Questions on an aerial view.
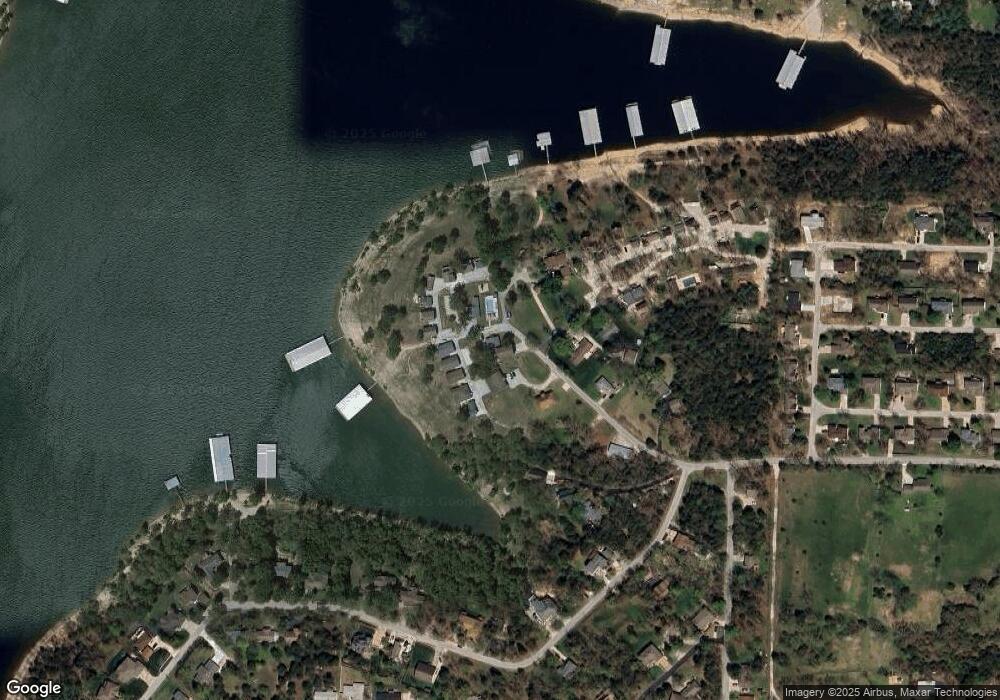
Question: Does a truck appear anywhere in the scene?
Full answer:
No, no truck can be seen from above.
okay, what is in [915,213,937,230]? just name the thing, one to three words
house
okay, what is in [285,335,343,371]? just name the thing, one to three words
pier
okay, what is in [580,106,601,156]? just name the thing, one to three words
pier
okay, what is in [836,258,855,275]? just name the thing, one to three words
house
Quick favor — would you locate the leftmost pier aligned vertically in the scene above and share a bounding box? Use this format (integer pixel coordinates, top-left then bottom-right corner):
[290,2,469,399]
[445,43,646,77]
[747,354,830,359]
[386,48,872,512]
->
[209,433,233,491]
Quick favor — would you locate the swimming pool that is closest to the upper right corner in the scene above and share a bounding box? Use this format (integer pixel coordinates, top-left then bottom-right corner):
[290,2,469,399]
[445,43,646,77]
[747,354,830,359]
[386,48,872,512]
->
[678,273,701,290]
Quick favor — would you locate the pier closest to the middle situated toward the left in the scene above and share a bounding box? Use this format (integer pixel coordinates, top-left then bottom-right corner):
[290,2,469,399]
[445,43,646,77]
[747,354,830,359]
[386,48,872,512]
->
[335,383,378,419]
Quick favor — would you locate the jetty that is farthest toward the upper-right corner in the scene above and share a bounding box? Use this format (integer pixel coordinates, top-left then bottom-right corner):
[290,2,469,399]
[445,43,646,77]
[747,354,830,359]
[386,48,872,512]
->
[776,39,807,90]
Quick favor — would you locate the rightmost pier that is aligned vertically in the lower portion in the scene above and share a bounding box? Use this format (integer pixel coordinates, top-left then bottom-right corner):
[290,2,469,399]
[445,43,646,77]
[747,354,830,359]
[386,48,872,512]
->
[257,442,276,492]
